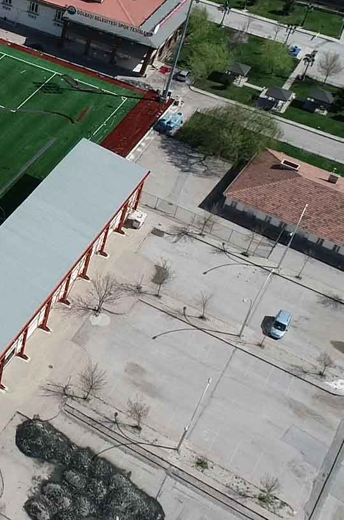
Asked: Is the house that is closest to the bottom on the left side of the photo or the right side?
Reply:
right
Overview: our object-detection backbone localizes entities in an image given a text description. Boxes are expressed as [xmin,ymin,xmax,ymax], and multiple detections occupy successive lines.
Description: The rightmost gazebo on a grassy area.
[304,87,341,117]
